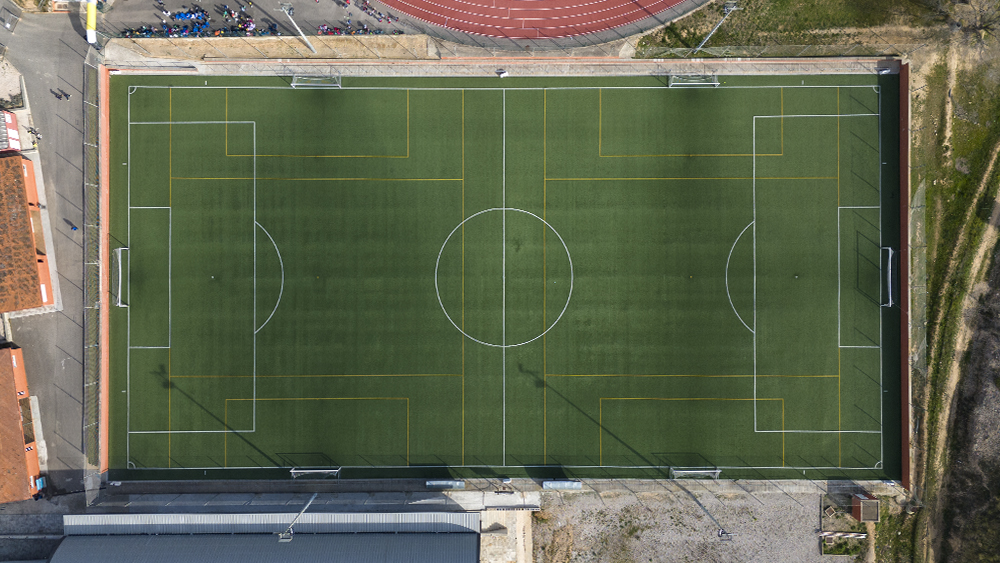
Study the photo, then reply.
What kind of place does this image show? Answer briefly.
sports ground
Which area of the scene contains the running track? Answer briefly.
top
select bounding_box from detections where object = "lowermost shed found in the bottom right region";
[853,495,880,522]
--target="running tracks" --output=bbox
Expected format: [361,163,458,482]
[375,0,687,39]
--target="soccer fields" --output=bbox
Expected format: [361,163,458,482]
[108,76,901,478]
